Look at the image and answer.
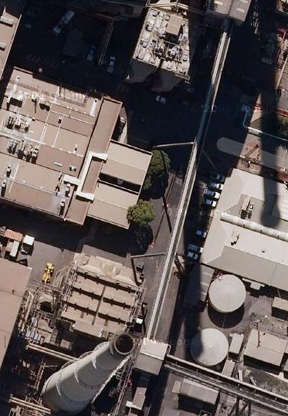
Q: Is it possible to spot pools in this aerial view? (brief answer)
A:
No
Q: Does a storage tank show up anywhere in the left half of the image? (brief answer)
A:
No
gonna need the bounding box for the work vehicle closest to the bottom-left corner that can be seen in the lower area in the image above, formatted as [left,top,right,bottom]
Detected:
[43,260,55,282]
